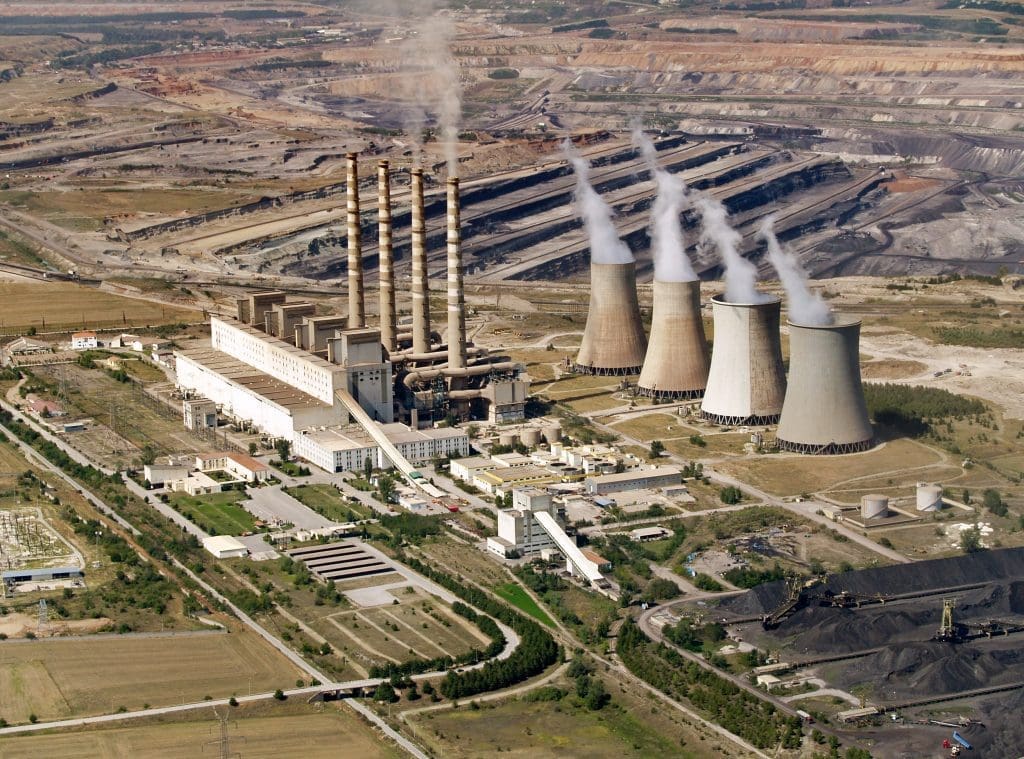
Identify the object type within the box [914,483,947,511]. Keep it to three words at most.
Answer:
storage tank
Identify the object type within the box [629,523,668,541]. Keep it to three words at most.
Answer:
shed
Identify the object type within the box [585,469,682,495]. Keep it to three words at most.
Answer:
building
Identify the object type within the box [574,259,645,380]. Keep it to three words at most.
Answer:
cooling tower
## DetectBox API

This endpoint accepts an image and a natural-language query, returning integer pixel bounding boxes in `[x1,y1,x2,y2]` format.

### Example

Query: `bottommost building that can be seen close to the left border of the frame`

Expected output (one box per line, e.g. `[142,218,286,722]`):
[3,565,96,590]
